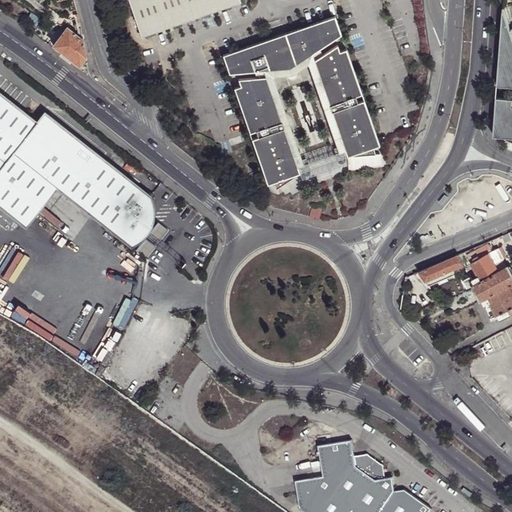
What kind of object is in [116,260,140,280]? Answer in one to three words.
vehicle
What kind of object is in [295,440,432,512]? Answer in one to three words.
building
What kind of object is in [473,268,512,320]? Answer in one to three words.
house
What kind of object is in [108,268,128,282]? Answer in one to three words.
work vehicle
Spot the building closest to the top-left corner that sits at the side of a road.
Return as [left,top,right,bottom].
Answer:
[53,28,86,68]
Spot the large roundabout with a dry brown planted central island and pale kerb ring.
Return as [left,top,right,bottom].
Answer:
[206,222,370,386]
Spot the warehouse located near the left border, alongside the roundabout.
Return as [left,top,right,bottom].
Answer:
[0,93,156,247]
